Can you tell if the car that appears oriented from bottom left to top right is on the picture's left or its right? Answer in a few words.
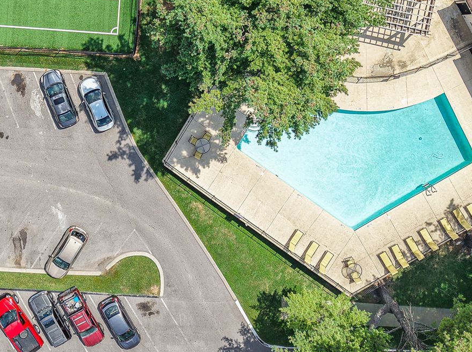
left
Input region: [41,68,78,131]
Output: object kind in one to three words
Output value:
car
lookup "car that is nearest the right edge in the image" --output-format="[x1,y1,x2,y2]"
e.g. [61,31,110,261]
[98,292,139,350]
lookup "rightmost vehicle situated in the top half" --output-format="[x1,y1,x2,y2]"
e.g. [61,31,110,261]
[80,75,114,135]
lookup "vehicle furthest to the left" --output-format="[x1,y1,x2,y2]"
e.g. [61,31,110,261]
[0,292,44,352]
